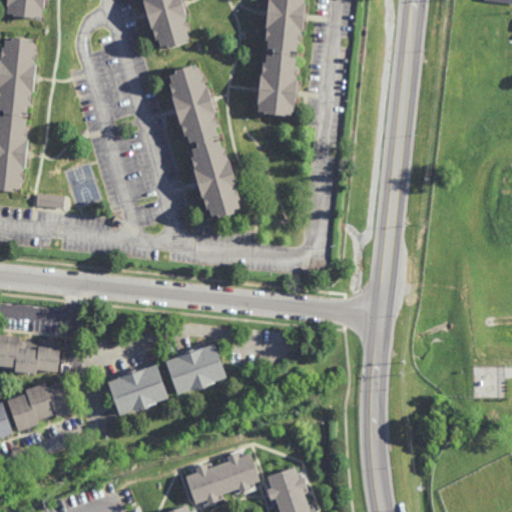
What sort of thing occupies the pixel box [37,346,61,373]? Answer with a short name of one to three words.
house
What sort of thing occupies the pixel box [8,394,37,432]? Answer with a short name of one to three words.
house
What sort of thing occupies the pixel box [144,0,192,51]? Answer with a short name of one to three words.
building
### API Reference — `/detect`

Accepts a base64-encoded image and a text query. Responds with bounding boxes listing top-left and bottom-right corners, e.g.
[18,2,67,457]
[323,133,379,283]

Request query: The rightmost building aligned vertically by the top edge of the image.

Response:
[257,0,306,117]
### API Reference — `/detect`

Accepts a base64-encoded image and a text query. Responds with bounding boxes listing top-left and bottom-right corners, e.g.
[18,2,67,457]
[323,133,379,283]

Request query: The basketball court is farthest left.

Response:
[66,164,102,206]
